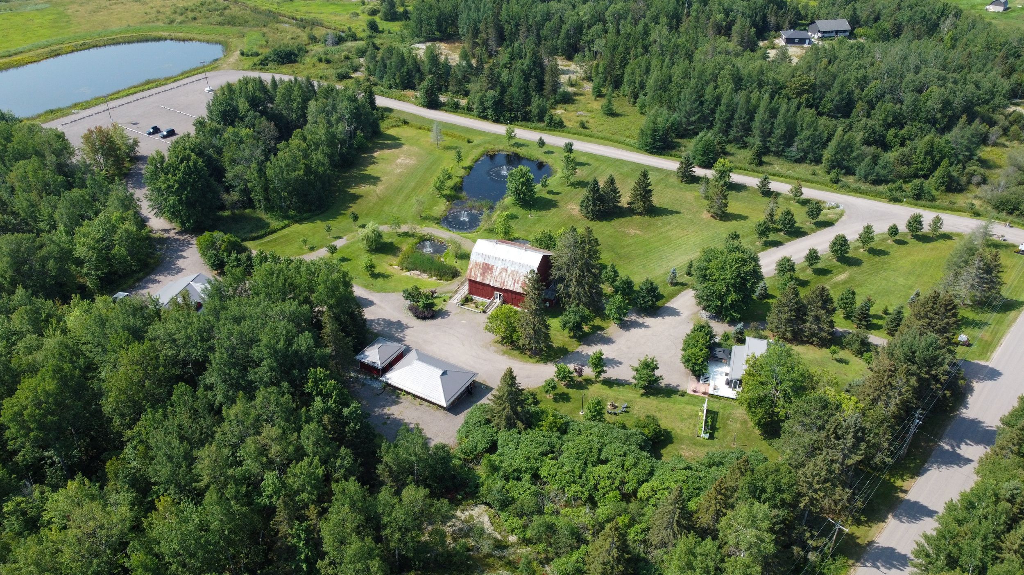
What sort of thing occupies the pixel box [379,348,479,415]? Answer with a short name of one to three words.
shed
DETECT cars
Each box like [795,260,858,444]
[159,127,176,138]
[144,122,161,135]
